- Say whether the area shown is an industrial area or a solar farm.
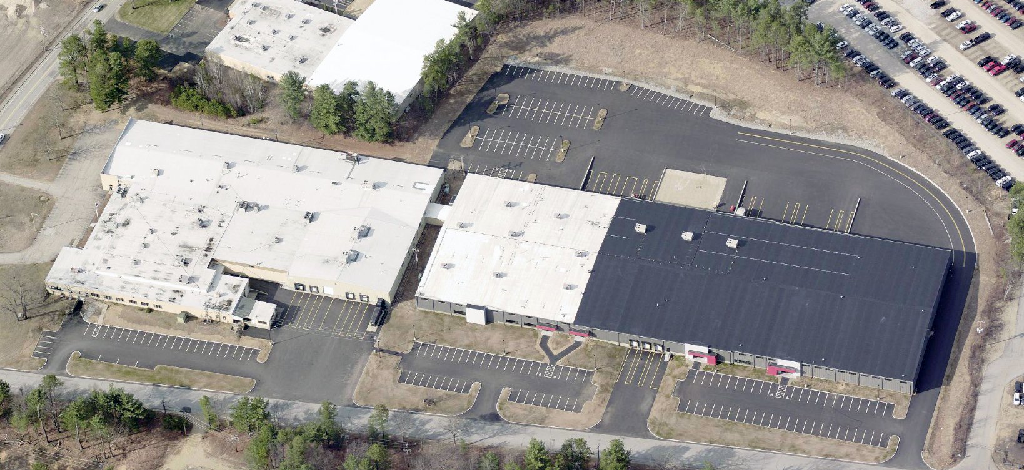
industrial area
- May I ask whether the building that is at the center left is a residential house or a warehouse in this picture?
warehouse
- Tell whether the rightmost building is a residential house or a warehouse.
warehouse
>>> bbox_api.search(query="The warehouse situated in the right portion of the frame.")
[415,172,951,395]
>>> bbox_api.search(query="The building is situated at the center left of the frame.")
[45,116,452,337]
